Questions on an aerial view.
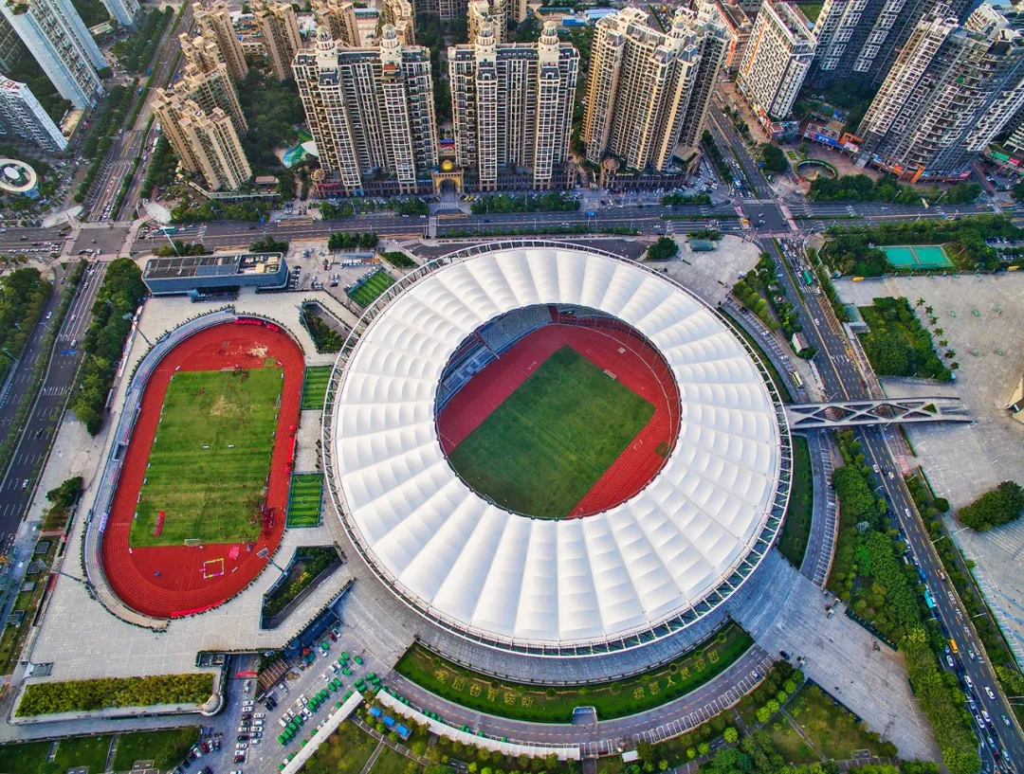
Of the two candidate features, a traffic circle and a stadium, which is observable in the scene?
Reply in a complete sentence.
Visible in the photo is a stadium.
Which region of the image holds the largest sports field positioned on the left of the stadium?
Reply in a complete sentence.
The largest sports field positioned on the left of the stadium appears toward the left of the photo.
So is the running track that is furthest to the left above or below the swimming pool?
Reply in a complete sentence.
You can see the running track that is furthest to the left below the swimming pool in the frame.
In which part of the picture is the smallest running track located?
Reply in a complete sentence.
The smallest running track appears toward the center of the photo.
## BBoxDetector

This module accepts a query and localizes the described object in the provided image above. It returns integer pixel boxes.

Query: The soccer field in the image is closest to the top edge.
[344,265,398,308]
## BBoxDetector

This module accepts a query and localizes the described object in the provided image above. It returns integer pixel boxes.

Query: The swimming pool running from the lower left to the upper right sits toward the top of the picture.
[284,134,313,168]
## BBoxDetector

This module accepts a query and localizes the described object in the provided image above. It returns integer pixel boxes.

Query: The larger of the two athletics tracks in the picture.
[81,308,302,634]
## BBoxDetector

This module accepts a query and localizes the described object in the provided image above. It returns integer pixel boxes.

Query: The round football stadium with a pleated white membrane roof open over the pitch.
[321,239,795,686]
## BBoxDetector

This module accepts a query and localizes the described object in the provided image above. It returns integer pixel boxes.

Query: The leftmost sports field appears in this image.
[127,357,283,548]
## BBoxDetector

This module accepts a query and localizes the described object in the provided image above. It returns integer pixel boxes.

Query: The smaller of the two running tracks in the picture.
[434,318,681,519]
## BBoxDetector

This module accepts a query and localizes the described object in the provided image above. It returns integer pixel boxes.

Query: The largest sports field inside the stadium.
[448,347,671,518]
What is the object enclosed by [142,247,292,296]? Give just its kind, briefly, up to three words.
building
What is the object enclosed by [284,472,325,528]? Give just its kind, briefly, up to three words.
soccer field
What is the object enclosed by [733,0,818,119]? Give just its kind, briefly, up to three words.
building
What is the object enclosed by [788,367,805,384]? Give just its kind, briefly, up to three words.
vehicle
